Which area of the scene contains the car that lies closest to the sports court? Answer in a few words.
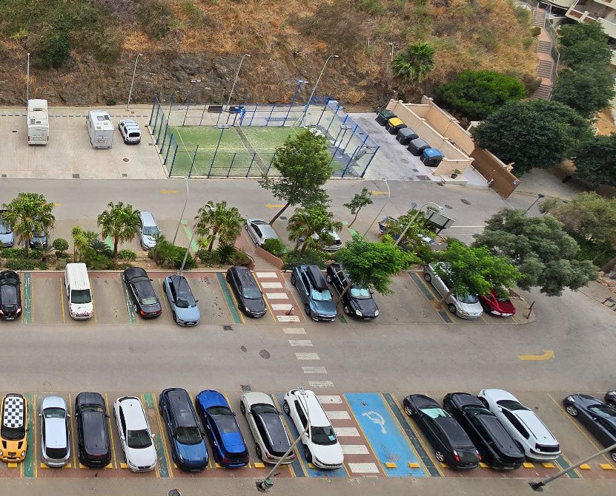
top left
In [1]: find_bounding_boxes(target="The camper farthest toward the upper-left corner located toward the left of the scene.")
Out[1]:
[27,96,50,145]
